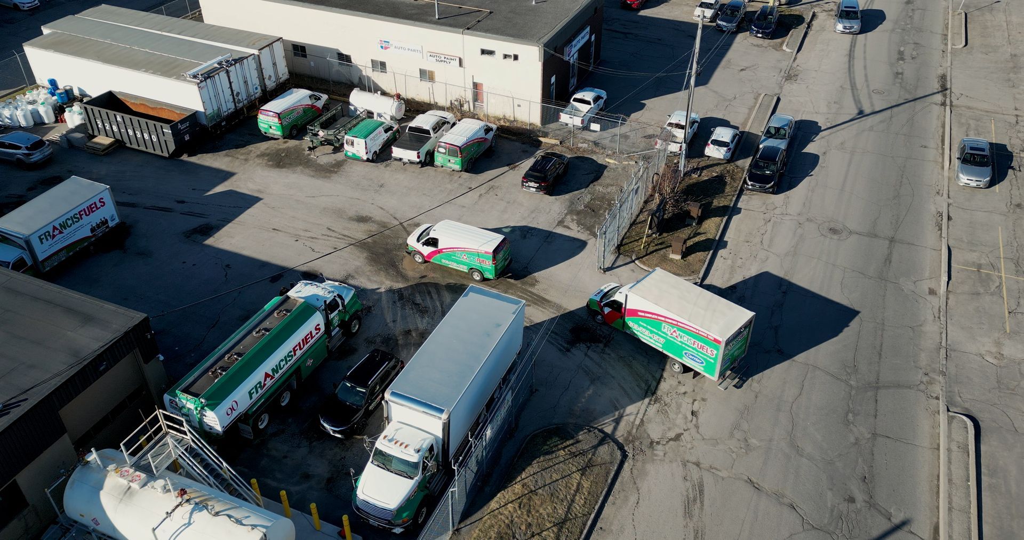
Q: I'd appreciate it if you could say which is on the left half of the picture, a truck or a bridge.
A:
truck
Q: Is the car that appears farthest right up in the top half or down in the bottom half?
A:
top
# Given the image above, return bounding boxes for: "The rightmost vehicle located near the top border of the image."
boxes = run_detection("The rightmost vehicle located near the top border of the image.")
[835,1,865,35]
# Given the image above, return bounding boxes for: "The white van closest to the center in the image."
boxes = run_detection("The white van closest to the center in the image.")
[401,218,519,281]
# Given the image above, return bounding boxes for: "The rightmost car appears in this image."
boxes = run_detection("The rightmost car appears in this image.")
[955,144,996,189]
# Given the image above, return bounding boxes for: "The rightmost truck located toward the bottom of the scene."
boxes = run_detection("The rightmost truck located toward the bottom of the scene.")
[582,268,756,395]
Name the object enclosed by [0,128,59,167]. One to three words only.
car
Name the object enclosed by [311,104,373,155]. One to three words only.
trailer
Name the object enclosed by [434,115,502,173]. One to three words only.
van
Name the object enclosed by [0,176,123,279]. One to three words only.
truck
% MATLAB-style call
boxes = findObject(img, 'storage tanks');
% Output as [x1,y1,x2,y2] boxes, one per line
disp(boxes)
[43,449,299,540]
[350,87,404,121]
